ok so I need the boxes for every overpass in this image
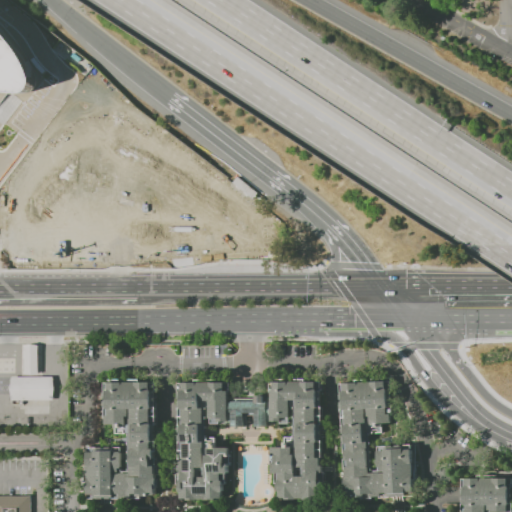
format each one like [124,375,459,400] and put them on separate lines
[453,162,512,280]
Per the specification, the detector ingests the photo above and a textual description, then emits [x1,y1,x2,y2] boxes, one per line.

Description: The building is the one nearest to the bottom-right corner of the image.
[458,474,506,512]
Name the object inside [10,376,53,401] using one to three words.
building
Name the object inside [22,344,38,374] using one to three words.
shed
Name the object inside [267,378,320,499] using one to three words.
building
